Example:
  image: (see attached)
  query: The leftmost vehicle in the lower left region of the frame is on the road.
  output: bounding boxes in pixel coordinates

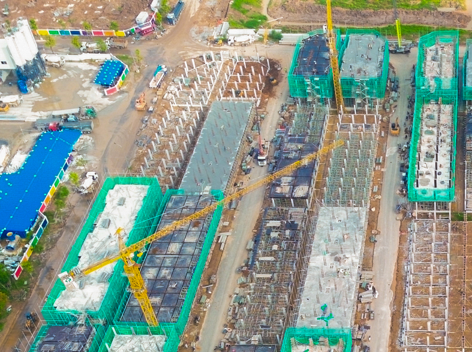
[19,309,36,329]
